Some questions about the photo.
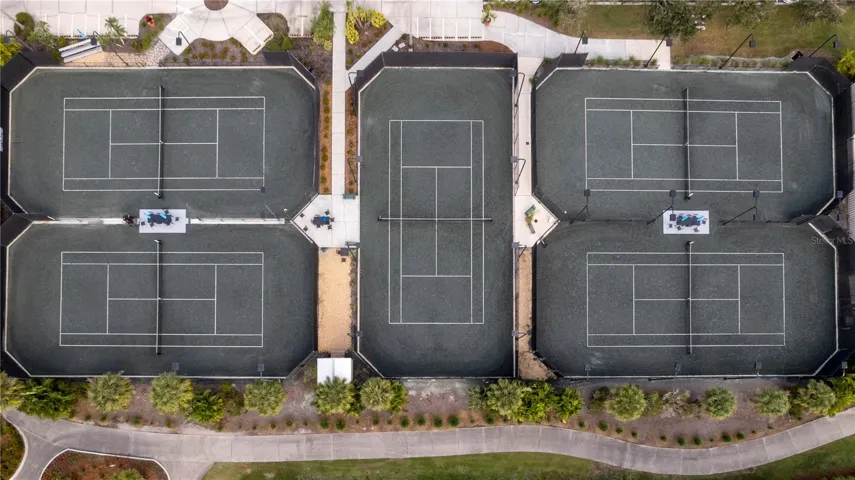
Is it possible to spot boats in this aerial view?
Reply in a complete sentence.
No, there's no boat here.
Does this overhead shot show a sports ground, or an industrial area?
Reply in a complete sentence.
What you see here is a sports ground.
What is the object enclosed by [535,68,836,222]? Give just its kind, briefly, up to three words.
tennis court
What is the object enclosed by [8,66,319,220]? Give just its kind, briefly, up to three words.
tennis court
